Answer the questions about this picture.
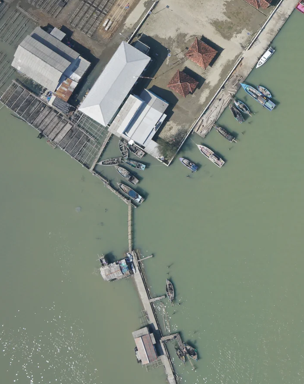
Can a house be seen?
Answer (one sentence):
Yes, the picture does show a house.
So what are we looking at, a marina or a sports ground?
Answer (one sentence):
It's a marina.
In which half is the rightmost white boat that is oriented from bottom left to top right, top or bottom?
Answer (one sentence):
Seen from above, the rightmost white boat that is oriented from bottom left to top right lies in the top half of the view.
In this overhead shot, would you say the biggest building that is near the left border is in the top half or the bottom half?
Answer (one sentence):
You can find the biggest building that is near the left border in the top half.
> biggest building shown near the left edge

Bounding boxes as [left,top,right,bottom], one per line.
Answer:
[12,35,76,92]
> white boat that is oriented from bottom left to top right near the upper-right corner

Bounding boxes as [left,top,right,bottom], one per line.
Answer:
[255,46,276,68]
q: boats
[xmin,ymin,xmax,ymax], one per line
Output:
[119,141,130,159]
[179,158,198,172]
[229,105,244,123]
[234,101,251,115]
[215,125,235,144]
[255,46,276,68]
[125,161,146,169]
[117,183,144,204]
[184,342,199,362]
[166,279,175,301]
[196,145,225,167]
[124,142,144,157]
[98,158,123,166]
[115,166,139,184]
[239,83,276,111]
[257,86,272,99]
